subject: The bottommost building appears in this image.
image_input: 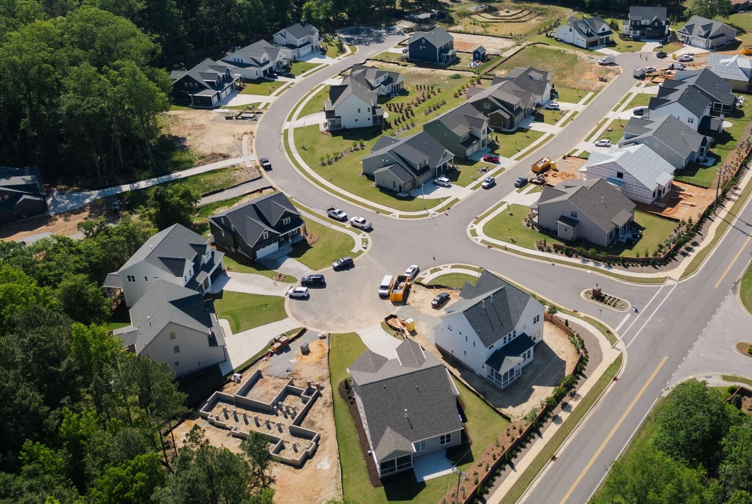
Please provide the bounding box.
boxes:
[347,335,463,477]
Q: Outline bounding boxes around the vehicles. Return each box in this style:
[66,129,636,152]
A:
[678,54,694,61]
[660,36,668,43]
[480,174,496,187]
[350,216,372,228]
[402,262,420,277]
[654,50,669,56]
[670,61,686,69]
[326,202,347,217]
[300,272,325,286]
[282,72,296,78]
[428,291,451,306]
[645,65,656,71]
[288,286,309,297]
[433,176,452,184]
[483,154,500,162]
[599,55,615,63]
[380,271,392,292]
[595,137,611,145]
[545,101,560,108]
[261,156,271,168]
[513,176,528,186]
[332,254,354,269]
